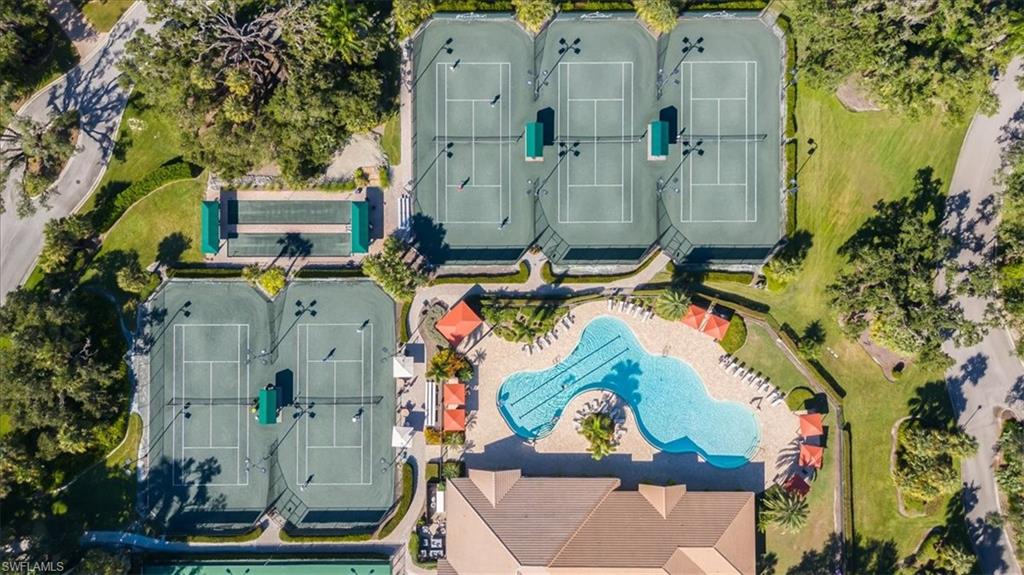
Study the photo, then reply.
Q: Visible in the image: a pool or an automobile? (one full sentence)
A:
There is a pool in the scene.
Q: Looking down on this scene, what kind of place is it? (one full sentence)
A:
What you see here is a sports ground.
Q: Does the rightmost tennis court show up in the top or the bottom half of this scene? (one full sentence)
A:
It is in the top half that the rightmost tennis court appears.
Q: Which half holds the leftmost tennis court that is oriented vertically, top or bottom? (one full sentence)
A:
The leftmost tennis court that is oriented vertically sits in the bottom half of the picture.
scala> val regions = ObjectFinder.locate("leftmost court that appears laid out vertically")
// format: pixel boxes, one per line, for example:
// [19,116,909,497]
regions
[150,281,271,528]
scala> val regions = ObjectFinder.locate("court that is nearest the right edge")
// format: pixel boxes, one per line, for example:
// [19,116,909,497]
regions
[657,18,784,265]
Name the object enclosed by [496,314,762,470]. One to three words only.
swimming pool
